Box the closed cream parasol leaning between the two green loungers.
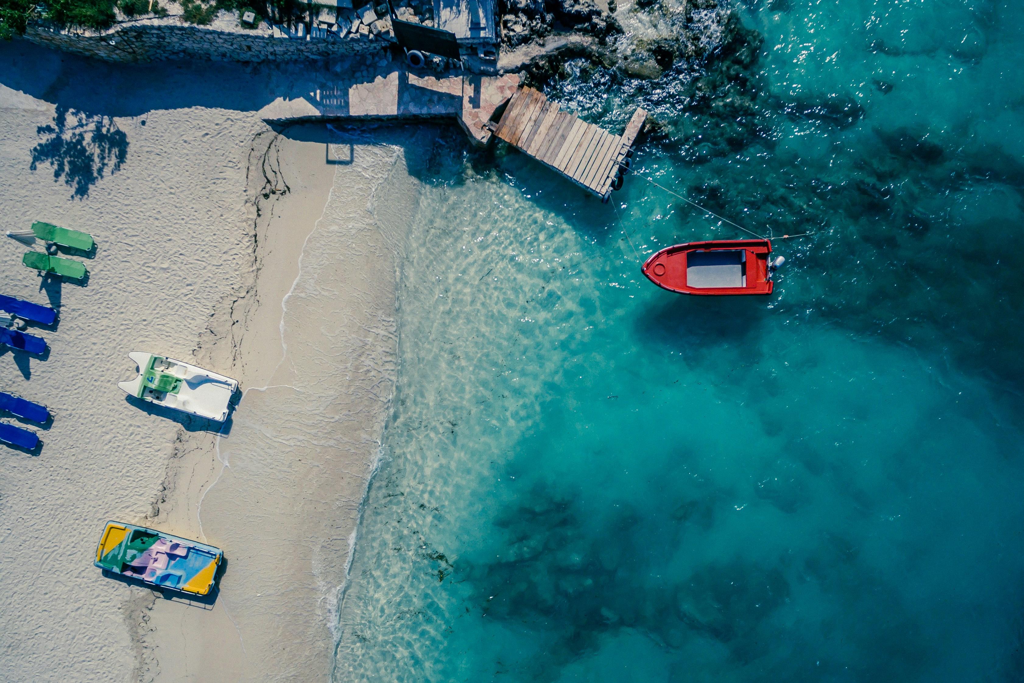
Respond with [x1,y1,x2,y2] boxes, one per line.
[6,231,59,257]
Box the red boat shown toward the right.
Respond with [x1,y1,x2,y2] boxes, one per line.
[640,239,784,296]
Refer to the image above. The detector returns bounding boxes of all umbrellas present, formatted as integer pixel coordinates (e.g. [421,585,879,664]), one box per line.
[6,231,59,257]
[0,310,25,330]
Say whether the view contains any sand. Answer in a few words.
Yes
